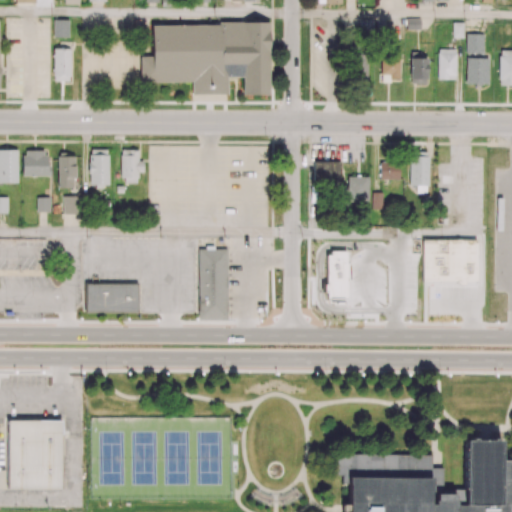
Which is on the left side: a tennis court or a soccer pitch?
tennis court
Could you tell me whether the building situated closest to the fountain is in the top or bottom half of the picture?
bottom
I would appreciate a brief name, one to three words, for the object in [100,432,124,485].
tennis court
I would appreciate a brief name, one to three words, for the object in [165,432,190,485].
tennis court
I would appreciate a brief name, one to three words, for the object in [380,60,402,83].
house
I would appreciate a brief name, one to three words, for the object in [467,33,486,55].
building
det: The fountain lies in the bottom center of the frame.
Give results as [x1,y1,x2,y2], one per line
[268,462,284,478]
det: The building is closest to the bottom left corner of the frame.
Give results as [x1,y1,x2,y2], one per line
[8,420,64,491]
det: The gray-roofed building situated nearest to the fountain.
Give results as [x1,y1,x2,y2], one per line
[340,441,512,512]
